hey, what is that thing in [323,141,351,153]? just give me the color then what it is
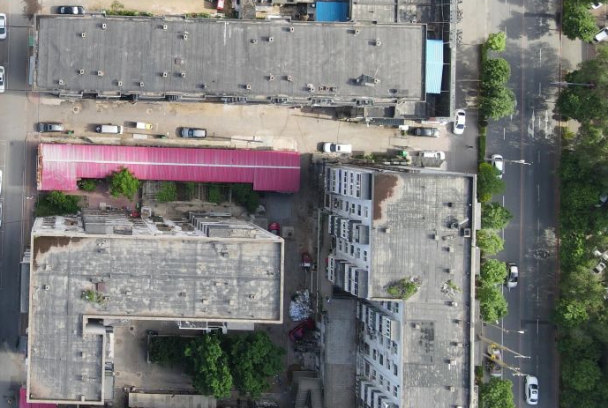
white vehicle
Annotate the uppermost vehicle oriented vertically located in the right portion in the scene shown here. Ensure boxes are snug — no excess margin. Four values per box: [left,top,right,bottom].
[452,108,465,136]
